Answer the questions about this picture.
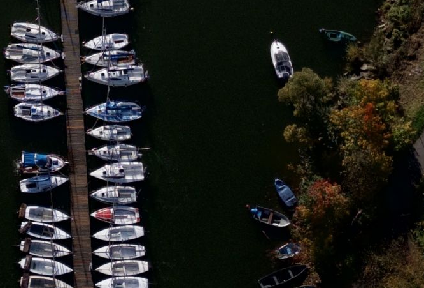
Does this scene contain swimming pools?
No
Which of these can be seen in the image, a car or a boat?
boat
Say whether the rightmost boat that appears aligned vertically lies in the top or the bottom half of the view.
top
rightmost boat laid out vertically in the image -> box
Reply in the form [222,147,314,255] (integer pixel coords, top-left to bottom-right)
[272,37,293,81]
